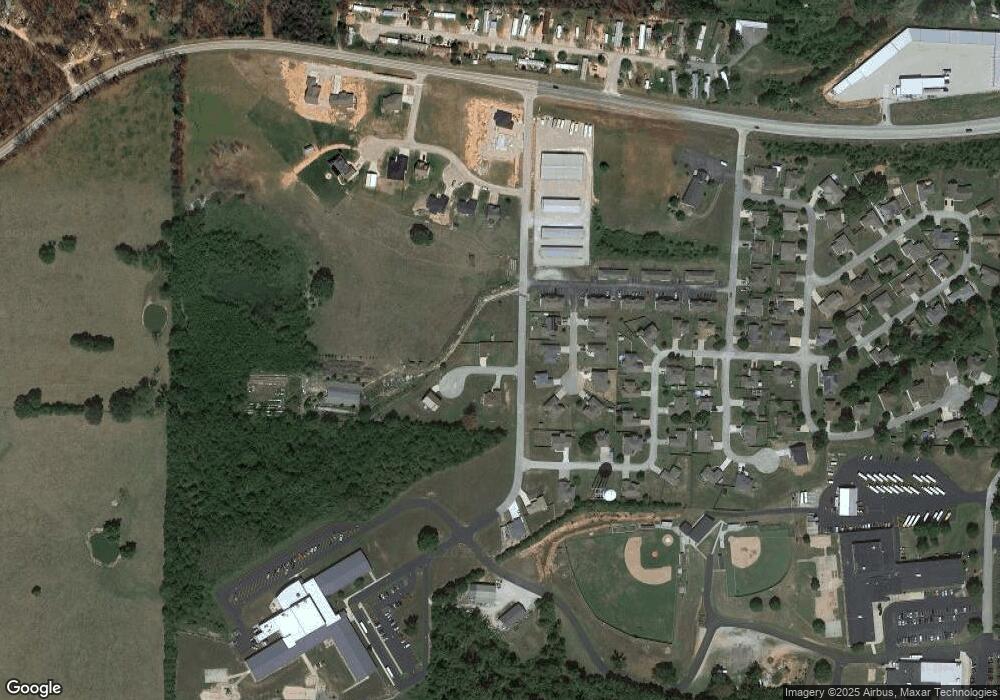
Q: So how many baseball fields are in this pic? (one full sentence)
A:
The number of baseball fields here is 2.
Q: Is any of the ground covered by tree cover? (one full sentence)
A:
Yes, there is tree cover in the image.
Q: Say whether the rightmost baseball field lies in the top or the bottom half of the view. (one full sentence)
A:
It is in the bottom half that the rightmost baseball field appears.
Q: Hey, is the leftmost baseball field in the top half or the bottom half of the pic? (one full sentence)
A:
It is in the bottom half that the leftmost baseball field appears.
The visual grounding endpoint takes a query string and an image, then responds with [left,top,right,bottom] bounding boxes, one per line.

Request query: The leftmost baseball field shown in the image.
[565,530,680,642]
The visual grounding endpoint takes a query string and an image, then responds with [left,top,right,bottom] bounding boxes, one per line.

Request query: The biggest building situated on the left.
[248,548,377,684]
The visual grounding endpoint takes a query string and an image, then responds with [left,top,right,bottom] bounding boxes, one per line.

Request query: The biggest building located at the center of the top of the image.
[540,152,585,181]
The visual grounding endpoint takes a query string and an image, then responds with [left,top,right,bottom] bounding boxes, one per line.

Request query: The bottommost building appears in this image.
[885,659,962,700]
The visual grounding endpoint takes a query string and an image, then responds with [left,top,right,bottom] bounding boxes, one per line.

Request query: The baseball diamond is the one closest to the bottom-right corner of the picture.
[727,528,794,597]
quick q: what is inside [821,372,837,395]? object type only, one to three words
house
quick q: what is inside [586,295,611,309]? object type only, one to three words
building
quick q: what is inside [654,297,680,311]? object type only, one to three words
building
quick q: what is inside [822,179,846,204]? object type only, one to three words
house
